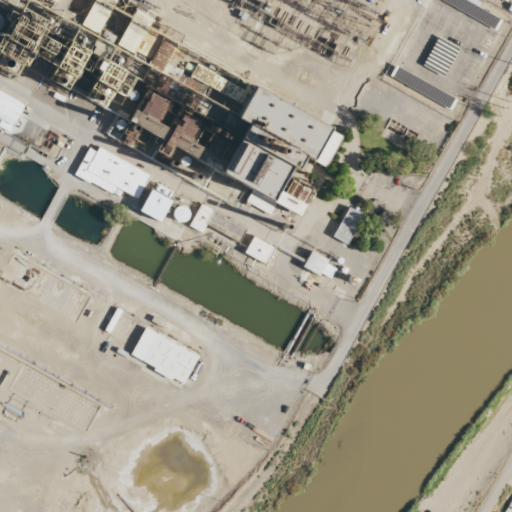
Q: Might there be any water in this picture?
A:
Yes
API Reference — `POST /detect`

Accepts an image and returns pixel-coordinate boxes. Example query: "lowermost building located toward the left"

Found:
[132,327,202,383]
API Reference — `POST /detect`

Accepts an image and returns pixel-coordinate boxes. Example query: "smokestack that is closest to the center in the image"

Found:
[278,221,294,233]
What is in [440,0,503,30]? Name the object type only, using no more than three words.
shed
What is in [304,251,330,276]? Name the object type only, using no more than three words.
building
